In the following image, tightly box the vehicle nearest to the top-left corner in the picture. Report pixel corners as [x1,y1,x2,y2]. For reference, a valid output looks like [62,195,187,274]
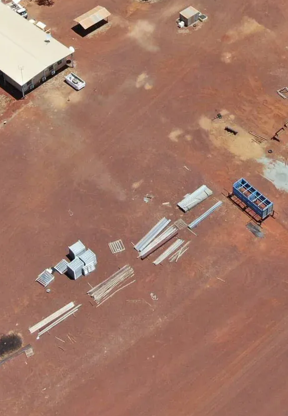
[7,2,34,22]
